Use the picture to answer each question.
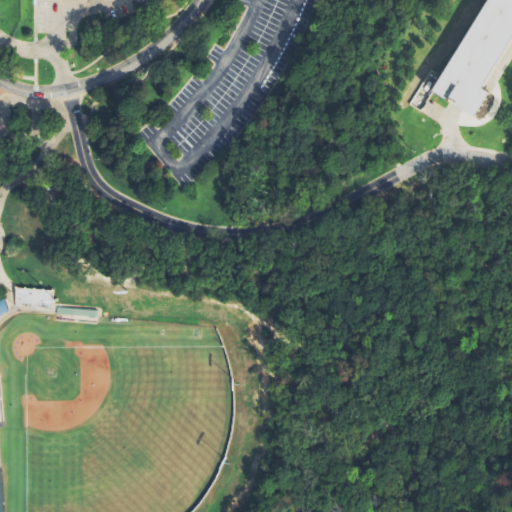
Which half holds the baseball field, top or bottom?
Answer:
bottom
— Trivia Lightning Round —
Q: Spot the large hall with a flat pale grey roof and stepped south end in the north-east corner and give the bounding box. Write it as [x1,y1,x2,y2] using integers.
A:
[431,0,512,117]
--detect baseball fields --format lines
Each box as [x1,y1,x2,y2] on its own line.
[12,330,233,512]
